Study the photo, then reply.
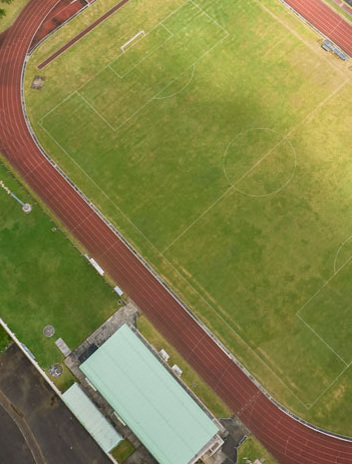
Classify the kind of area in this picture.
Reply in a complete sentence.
This looks like a sports ground.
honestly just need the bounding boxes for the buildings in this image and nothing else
[63,380,122,451]
[80,324,231,464]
